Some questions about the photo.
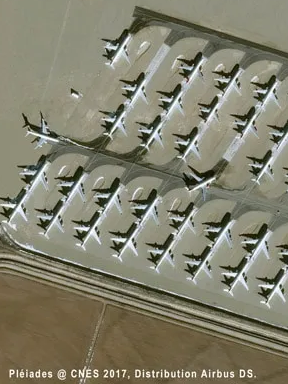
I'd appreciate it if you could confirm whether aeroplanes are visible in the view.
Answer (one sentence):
Yes, looking at the shot, I can spot an aeroplane.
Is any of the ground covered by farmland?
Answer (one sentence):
Yes, farmland can be seen from above here.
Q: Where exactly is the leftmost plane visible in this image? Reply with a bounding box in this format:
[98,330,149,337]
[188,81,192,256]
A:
[1,195,27,225]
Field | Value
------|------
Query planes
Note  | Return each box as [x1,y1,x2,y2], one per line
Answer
[223,261,250,292]
[132,198,159,230]
[249,157,275,186]
[139,120,165,149]
[149,239,176,271]
[105,38,131,66]
[270,132,288,153]
[102,110,128,139]
[38,205,64,236]
[233,113,259,141]
[185,174,215,200]
[159,90,185,118]
[75,217,102,249]
[254,82,280,110]
[175,133,201,161]
[96,187,122,218]
[171,209,196,238]
[22,164,49,195]
[112,228,139,259]
[187,249,213,281]
[244,234,270,264]
[25,120,59,149]
[181,57,206,86]
[59,176,86,206]
[207,223,233,253]
[260,273,287,305]
[218,70,244,98]
[200,102,220,125]
[1,195,27,225]
[122,78,148,107]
